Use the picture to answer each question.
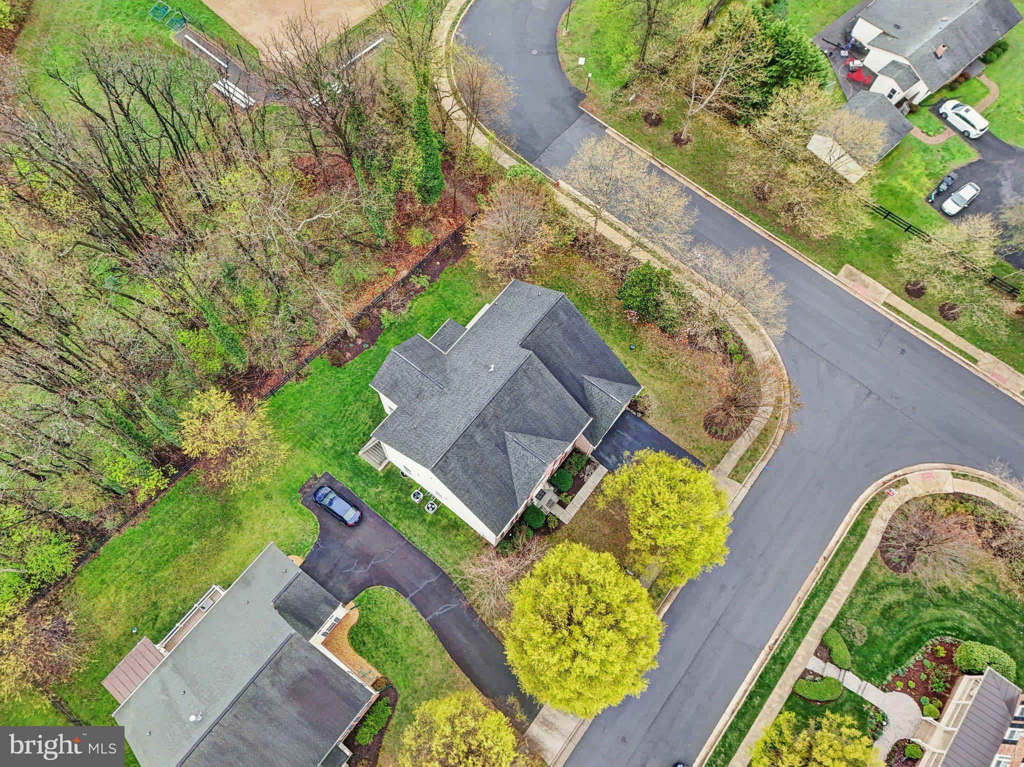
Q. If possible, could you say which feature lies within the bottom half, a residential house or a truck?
residential house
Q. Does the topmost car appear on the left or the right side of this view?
right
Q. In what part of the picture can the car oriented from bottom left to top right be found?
top right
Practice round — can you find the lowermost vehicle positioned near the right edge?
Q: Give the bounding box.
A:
[938,181,981,218]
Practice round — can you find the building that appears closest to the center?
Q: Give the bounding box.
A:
[358,279,645,545]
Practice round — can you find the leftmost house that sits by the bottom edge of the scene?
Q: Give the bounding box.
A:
[107,542,378,767]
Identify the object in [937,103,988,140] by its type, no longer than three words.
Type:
car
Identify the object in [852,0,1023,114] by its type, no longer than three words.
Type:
house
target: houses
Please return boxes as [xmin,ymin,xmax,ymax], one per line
[358,279,645,545]
[908,663,1024,767]
[852,0,1023,114]
[107,542,378,767]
